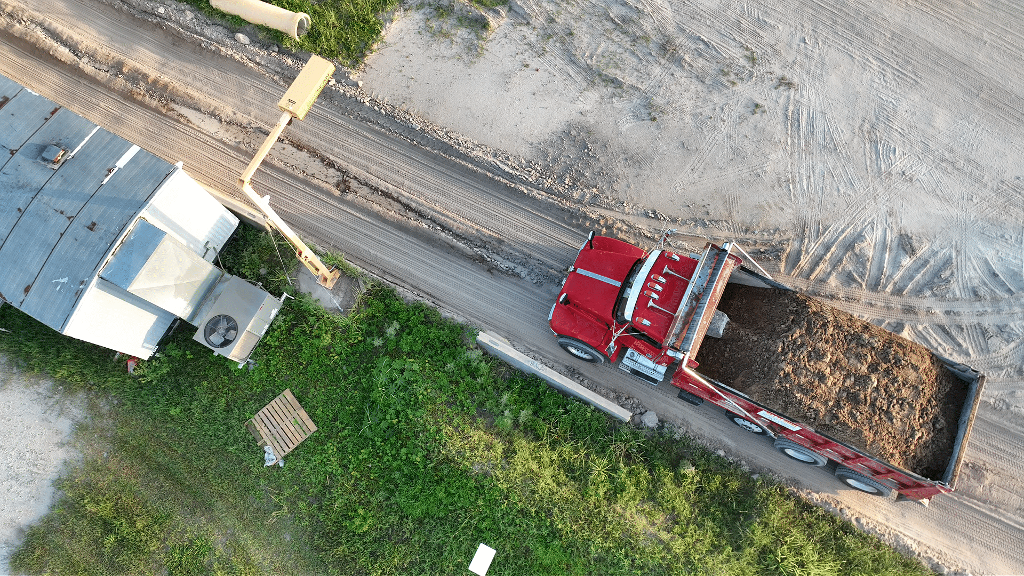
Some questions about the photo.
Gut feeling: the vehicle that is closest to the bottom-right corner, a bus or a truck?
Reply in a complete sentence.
Specifically, the vehicle that is closest to the bottom-right corner is a truck.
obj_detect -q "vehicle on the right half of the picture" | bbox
[551,213,992,499]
